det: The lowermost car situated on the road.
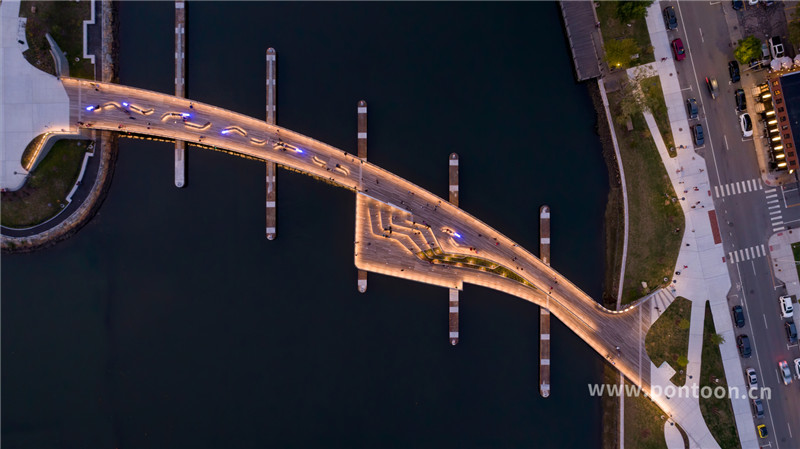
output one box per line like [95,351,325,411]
[755,422,769,438]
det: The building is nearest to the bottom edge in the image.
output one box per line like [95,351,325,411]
[759,73,800,173]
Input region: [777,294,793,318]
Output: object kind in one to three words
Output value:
car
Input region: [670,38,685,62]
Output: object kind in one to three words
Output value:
car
